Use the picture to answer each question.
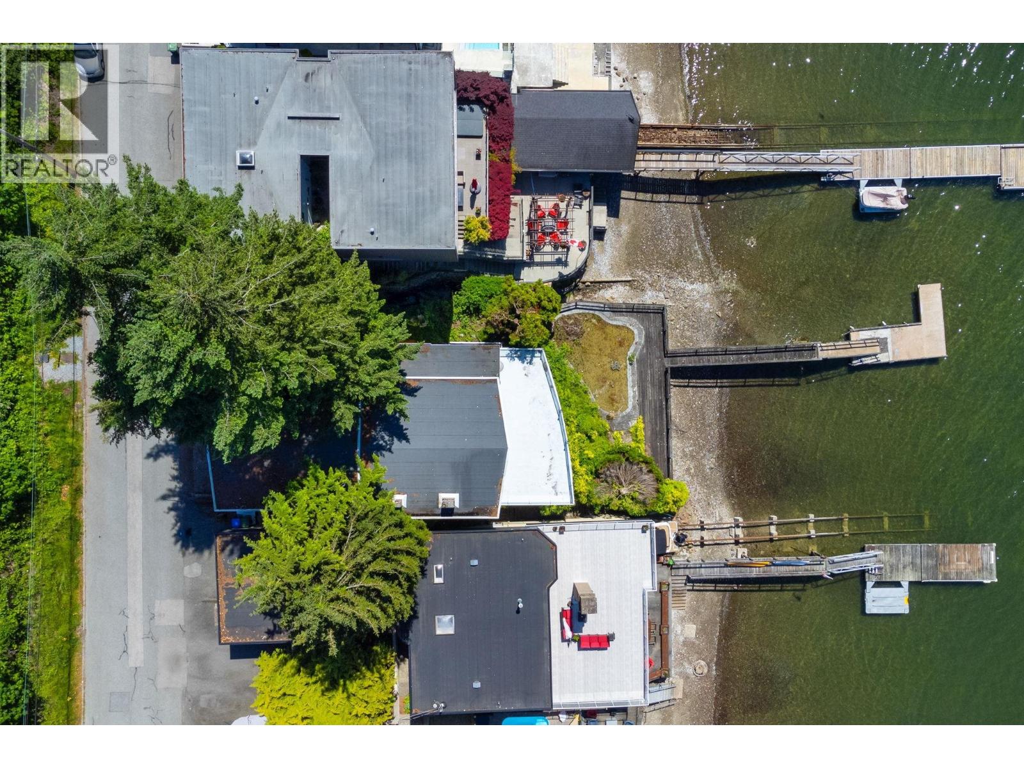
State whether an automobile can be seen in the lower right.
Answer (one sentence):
No, no automobile appears in the lower right.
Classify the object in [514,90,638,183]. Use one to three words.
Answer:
building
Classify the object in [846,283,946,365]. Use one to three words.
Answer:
pier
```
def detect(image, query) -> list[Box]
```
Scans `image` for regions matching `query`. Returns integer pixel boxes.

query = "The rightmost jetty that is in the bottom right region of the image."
[860,543,997,583]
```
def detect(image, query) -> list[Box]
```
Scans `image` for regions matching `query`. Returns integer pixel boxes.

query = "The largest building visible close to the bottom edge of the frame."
[358,520,660,746]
